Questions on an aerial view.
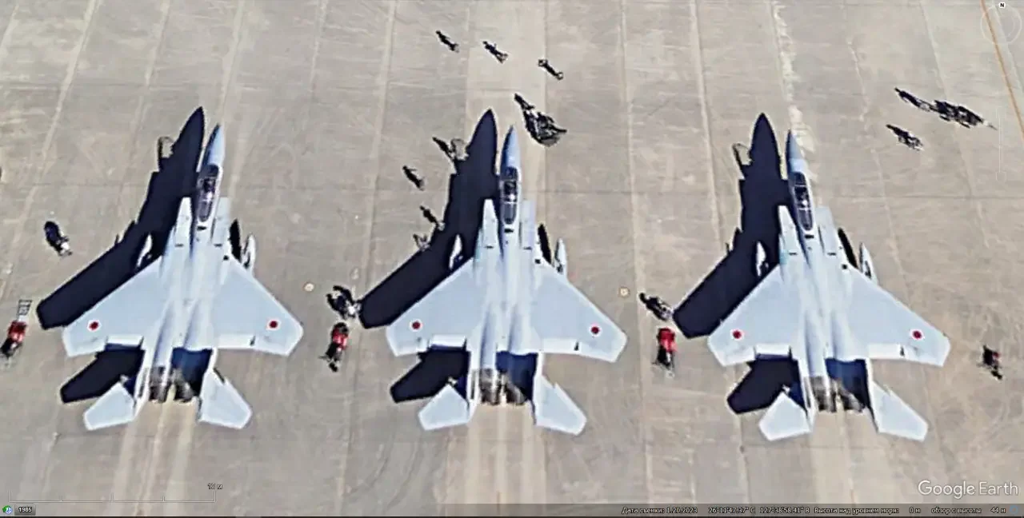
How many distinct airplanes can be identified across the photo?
3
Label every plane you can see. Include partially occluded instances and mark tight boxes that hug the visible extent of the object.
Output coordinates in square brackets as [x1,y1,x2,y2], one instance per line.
[385,127,627,434]
[60,125,303,430]
[708,133,951,440]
